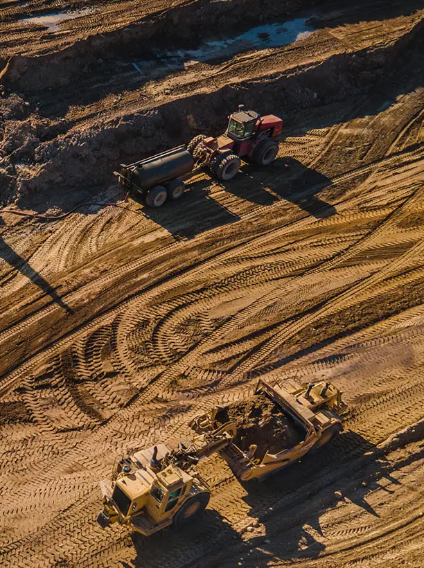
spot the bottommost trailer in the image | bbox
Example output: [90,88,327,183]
[110,144,198,203]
